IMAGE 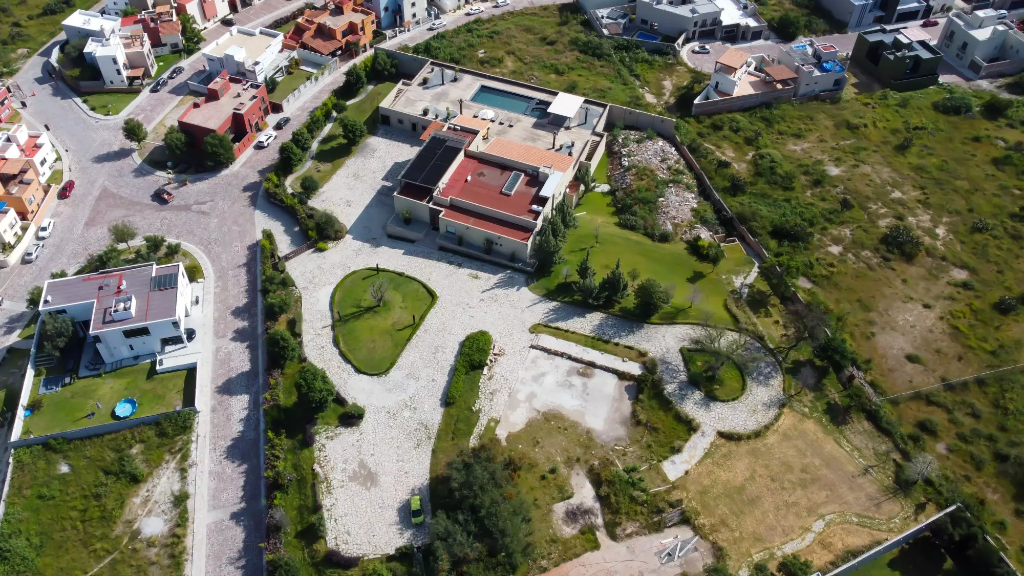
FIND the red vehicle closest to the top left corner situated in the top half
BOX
[58,181,75,197]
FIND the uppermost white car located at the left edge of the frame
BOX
[37,219,55,237]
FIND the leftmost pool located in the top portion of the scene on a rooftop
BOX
[466,83,554,122]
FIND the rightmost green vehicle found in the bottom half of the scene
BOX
[410,497,424,522]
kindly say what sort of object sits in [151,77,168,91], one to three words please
car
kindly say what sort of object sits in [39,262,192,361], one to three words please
house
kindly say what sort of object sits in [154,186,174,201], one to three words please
vehicle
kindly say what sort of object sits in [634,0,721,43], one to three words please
building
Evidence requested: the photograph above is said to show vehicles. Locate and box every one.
[37,219,55,237]
[274,116,292,129]
[693,45,712,54]
[58,181,75,197]
[220,17,237,25]
[429,20,447,30]
[922,19,939,28]
[258,130,276,146]
[151,77,168,91]
[331,48,342,56]
[410,497,424,522]
[468,6,485,15]
[494,0,512,8]
[168,65,185,78]
[186,330,197,341]
[997,9,1010,19]
[154,186,174,201]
